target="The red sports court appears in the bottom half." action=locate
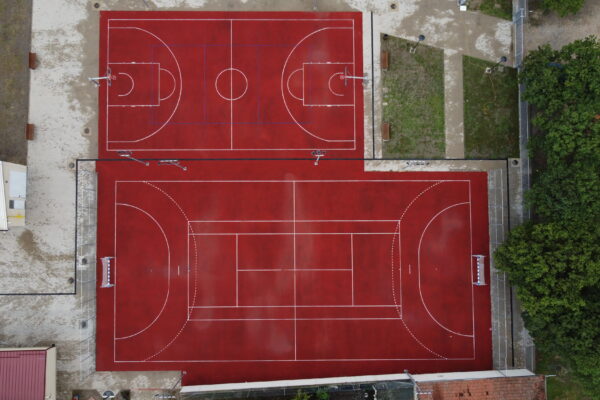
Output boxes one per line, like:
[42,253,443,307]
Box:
[96,160,492,387]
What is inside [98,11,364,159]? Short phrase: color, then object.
red basketball court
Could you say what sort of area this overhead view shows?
sports ground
